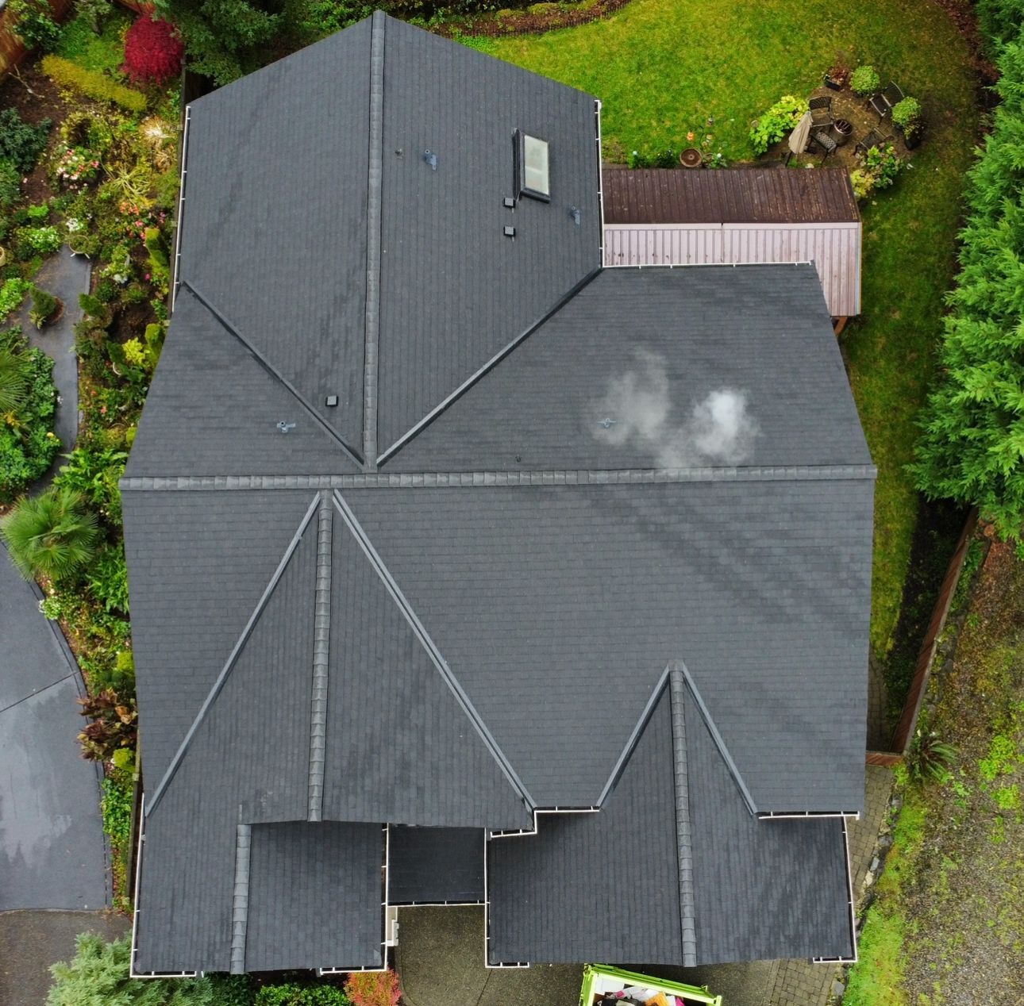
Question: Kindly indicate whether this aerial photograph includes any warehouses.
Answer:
No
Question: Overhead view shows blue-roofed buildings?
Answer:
No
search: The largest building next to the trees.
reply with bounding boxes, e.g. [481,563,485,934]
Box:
[116,9,880,975]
